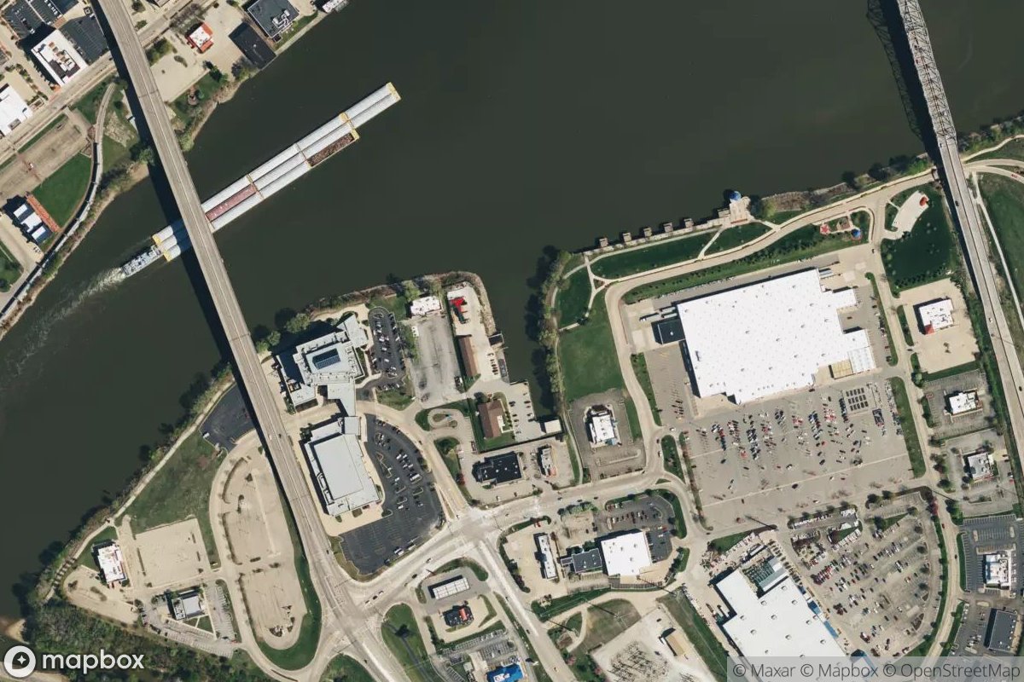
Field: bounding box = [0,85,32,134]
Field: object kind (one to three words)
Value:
building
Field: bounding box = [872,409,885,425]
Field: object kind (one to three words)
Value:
vehicle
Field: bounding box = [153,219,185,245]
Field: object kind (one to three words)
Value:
ship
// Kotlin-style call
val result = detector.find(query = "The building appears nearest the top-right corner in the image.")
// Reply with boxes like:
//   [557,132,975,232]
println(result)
[920,299,955,334]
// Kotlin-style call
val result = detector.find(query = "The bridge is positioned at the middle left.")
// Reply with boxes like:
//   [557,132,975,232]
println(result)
[98,0,334,567]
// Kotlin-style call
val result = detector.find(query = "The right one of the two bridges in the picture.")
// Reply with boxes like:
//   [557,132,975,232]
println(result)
[899,0,1024,454]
